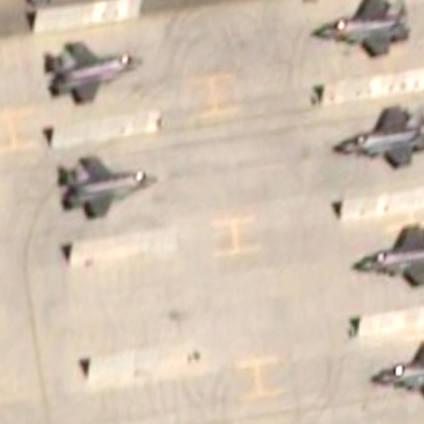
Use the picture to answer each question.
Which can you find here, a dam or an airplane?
airplane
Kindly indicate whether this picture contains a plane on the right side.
Yes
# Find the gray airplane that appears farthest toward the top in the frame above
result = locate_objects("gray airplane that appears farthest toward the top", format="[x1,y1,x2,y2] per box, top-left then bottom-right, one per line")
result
[320,0,410,51]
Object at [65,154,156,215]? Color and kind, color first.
gray airplane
